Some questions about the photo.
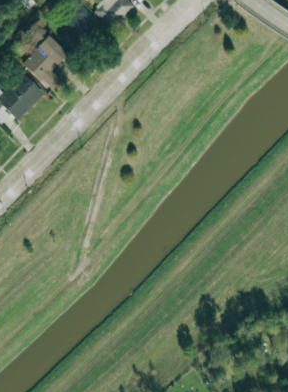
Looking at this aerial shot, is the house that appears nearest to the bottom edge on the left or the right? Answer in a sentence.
The house that appears nearest to the bottom edge appears in the left half of the scene.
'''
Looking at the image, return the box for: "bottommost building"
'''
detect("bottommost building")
[0,76,45,124]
